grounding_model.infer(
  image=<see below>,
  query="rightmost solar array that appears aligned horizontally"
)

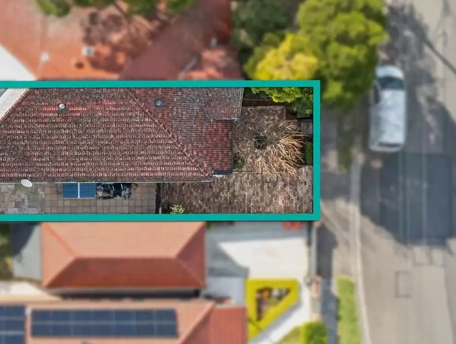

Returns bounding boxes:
[31,311,177,338]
